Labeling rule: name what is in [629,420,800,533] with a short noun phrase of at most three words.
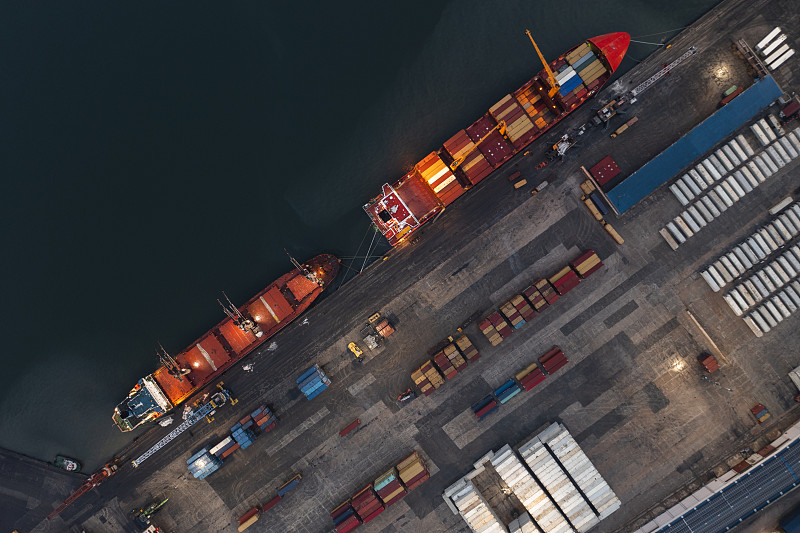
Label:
shed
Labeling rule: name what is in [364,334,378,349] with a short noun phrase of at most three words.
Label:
vehicle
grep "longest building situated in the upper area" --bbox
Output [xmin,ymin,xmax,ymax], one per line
[603,73,785,215]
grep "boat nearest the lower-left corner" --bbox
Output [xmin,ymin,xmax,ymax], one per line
[54,453,84,474]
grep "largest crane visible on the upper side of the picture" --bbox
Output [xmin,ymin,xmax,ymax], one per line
[584,45,698,131]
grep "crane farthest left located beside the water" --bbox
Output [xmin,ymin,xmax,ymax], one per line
[44,449,133,524]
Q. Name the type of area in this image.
port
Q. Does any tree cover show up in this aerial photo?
No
